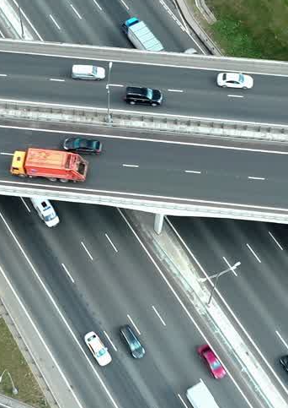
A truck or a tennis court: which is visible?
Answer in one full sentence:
Of the two, only a truck appears.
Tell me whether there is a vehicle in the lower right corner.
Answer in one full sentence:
Yes, looking in the lower right corner, one can make out a vehicle.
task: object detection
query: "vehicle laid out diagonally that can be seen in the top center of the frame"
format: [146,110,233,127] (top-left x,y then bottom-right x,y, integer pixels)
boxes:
[124,14,165,52]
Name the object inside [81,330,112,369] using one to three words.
car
